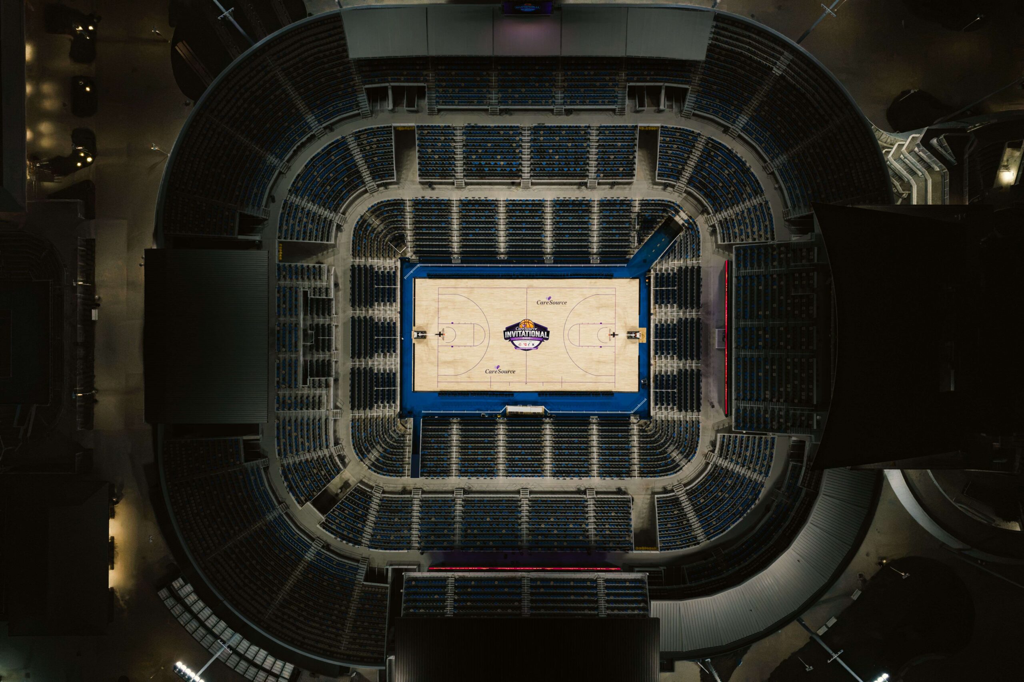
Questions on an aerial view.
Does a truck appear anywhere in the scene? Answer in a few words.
No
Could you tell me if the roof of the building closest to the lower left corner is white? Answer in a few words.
No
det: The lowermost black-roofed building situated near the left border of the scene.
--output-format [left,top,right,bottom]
[0,476,115,637]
